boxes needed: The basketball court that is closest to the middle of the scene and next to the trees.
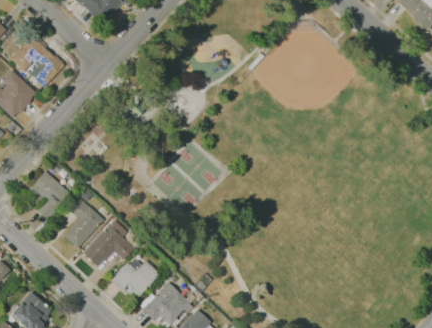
[174,142,223,192]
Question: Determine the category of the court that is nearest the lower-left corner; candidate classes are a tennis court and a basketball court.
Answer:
basketball court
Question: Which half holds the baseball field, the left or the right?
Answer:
right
